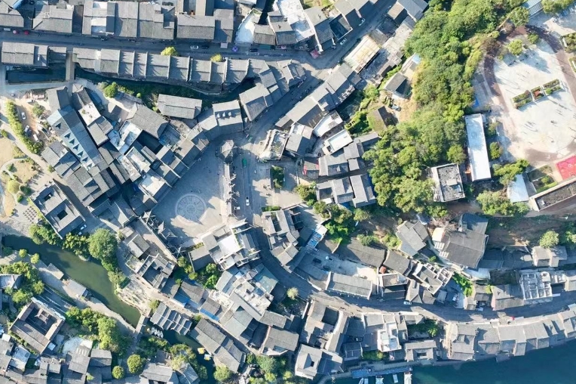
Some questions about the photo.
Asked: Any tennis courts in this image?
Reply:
No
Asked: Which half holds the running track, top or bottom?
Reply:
top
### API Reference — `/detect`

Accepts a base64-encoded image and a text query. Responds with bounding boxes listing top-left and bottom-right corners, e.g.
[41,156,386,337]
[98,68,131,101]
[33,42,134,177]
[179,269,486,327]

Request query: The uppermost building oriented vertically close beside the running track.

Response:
[461,113,491,180]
